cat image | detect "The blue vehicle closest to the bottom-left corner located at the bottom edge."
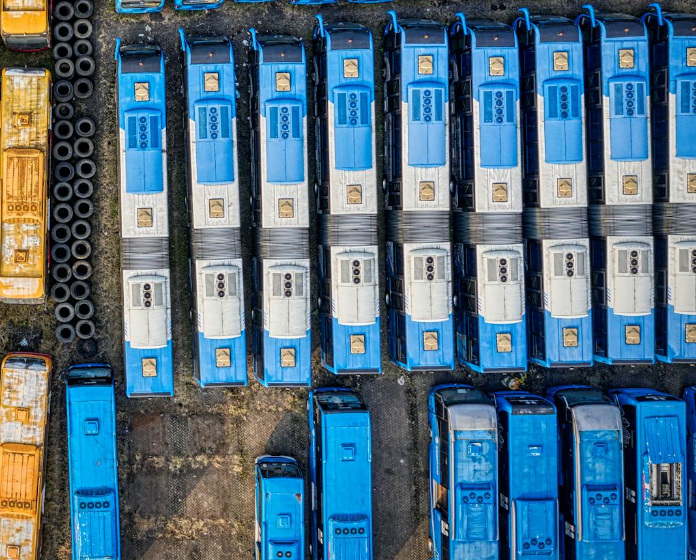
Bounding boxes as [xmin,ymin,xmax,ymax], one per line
[62,364,121,560]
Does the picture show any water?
No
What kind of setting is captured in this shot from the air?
parking lot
